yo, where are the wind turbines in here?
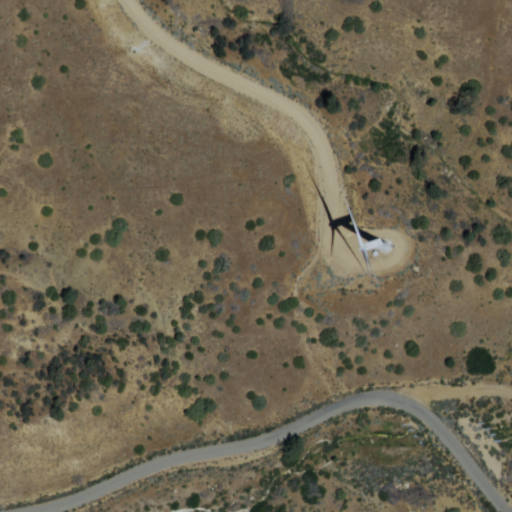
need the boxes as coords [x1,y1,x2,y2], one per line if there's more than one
[340,187,394,281]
